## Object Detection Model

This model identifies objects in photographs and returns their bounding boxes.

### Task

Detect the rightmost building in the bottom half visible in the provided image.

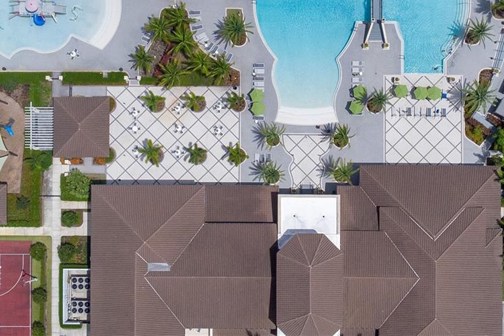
[89,164,503,336]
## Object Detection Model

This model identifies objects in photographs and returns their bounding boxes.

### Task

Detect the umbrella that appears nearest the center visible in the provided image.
[251,103,265,116]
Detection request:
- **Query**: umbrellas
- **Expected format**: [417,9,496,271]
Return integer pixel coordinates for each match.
[352,85,365,99]
[426,87,440,100]
[414,86,427,100]
[350,102,363,114]
[251,89,265,102]
[394,85,407,98]
[251,103,265,116]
